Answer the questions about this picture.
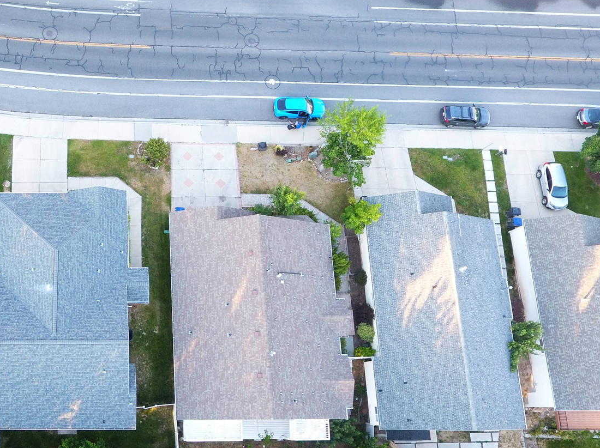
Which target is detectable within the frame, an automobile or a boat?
automobile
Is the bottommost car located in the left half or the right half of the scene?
right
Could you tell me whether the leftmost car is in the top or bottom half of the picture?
top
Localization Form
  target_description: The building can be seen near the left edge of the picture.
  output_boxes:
[0,185,149,434]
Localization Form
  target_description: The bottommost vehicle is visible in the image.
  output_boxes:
[536,161,569,210]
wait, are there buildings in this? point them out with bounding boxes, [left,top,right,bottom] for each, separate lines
[356,189,528,443]
[506,214,600,429]
[169,205,355,441]
[0,185,149,434]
